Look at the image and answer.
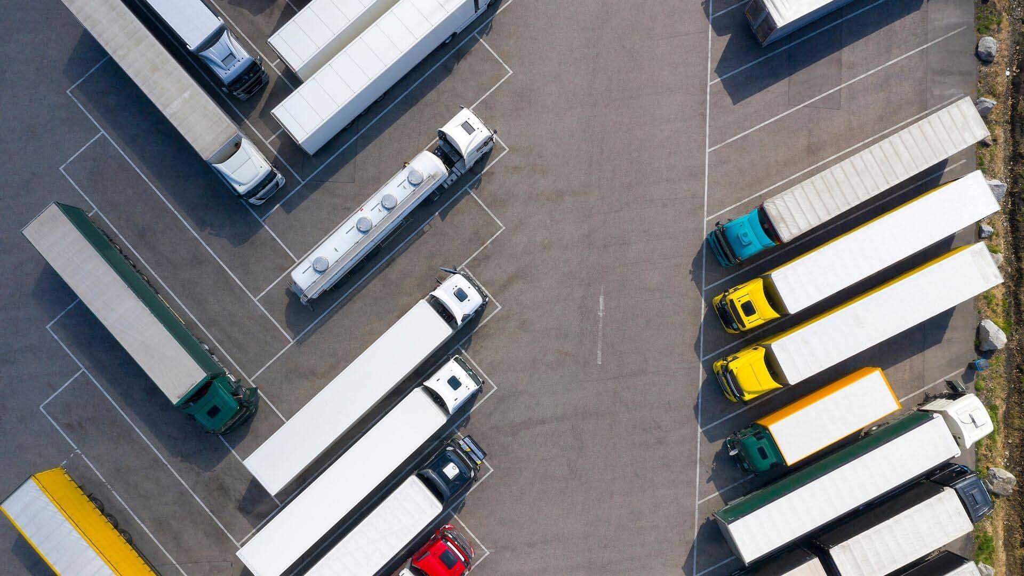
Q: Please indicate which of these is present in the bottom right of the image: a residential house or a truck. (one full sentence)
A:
The feature located in the bottom right of the image is a truck.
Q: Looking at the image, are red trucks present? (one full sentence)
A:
Yes, the picture does show a red truck.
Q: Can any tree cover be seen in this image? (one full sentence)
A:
No, the scene doesn't show any tree cover.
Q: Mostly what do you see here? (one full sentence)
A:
Most of the picture is covered by paved ground.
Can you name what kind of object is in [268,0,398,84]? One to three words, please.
truck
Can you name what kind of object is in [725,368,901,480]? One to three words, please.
truck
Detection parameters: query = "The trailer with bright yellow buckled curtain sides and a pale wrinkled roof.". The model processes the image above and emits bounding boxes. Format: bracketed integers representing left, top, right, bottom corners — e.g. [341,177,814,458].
[0,467,163,576]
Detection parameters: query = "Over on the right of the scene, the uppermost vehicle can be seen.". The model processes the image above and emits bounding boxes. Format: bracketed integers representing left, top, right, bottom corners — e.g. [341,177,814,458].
[742,0,855,47]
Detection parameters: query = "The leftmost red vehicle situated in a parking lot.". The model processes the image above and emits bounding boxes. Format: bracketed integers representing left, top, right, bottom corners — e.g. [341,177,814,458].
[392,523,476,576]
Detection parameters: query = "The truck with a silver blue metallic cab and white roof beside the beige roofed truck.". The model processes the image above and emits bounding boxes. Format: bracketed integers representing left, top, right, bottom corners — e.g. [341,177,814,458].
[146,0,273,99]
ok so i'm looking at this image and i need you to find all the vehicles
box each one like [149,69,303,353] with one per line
[881,548,981,576]
[713,383,994,565]
[725,368,901,480]
[238,352,485,576]
[0,467,163,576]
[742,0,855,47]
[246,264,491,496]
[284,107,497,316]
[146,0,273,99]
[21,201,261,441]
[707,97,990,270]
[271,0,484,157]
[62,0,288,203]
[392,523,476,576]
[713,242,1004,406]
[713,170,1000,338]
[268,0,398,84]
[302,433,488,576]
